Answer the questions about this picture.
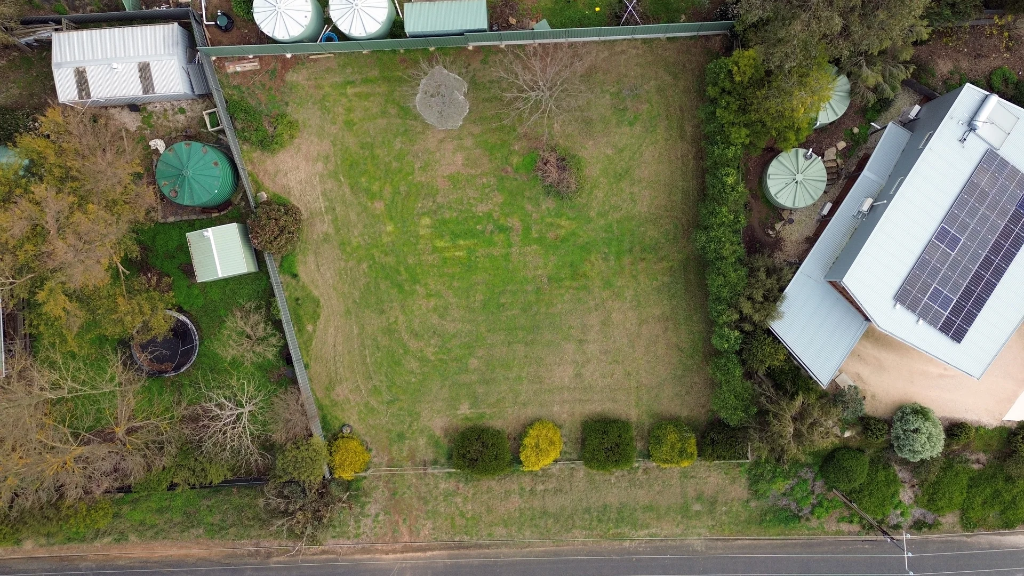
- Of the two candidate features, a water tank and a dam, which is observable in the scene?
water tank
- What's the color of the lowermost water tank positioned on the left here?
green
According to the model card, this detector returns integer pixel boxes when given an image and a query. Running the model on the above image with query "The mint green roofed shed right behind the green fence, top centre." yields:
[403,0,488,38]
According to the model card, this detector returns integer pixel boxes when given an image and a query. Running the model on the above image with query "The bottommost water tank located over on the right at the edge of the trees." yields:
[758,148,826,210]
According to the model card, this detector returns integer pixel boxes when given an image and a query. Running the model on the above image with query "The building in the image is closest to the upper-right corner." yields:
[759,82,1024,388]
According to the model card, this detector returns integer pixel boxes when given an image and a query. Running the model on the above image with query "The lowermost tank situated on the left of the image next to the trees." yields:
[155,141,234,208]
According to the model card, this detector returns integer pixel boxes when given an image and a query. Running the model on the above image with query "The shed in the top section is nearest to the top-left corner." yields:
[50,21,198,110]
